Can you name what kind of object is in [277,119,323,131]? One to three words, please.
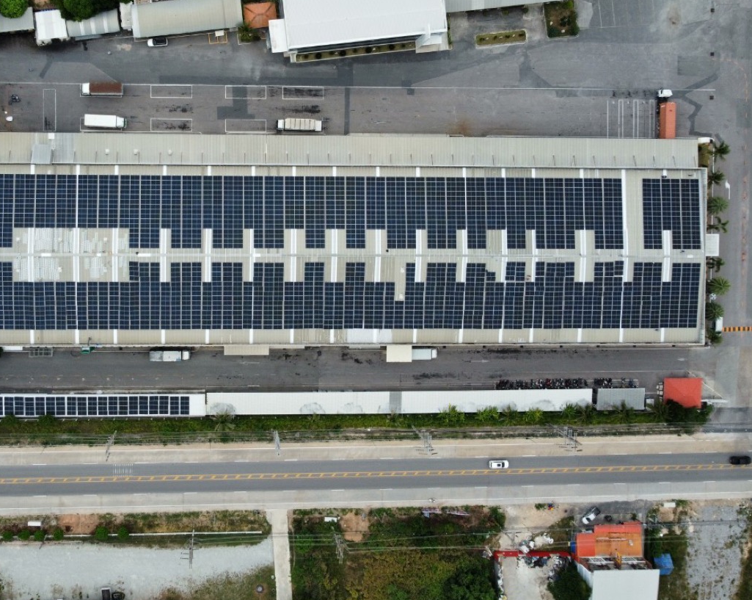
vehicle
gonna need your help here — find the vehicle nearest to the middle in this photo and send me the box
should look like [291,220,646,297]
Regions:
[412,348,437,360]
